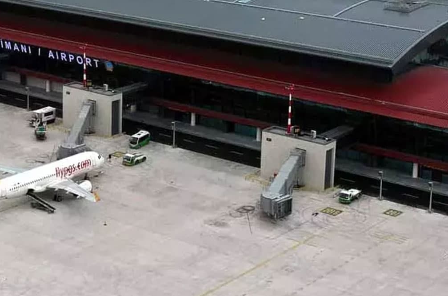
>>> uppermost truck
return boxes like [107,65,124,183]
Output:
[29,102,59,127]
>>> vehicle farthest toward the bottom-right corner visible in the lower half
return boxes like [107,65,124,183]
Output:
[337,188,364,204]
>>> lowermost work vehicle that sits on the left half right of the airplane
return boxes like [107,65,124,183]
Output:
[121,151,149,164]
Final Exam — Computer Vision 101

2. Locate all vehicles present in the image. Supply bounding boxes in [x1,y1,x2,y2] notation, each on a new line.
[29,102,59,127]
[127,128,153,147]
[20,190,51,221]
[121,151,149,164]
[33,128,48,139]
[337,188,364,204]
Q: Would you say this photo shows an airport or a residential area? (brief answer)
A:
airport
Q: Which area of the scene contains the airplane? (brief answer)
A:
left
